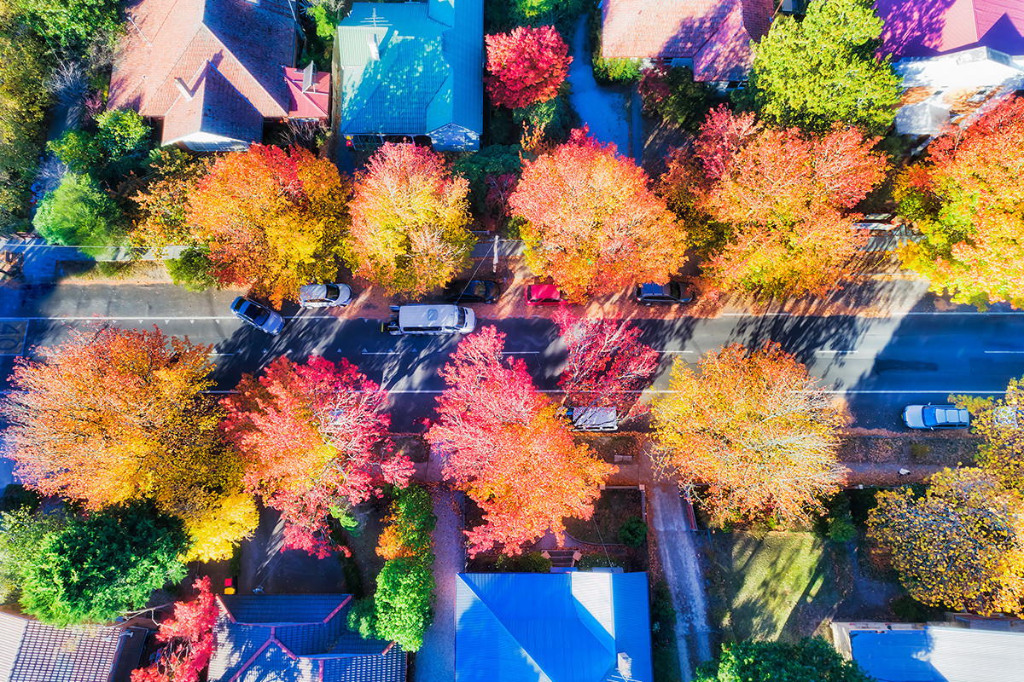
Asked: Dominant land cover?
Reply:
trees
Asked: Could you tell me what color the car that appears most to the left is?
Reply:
blue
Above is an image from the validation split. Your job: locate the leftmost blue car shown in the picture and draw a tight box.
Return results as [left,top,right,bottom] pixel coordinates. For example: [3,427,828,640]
[227,289,288,339]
